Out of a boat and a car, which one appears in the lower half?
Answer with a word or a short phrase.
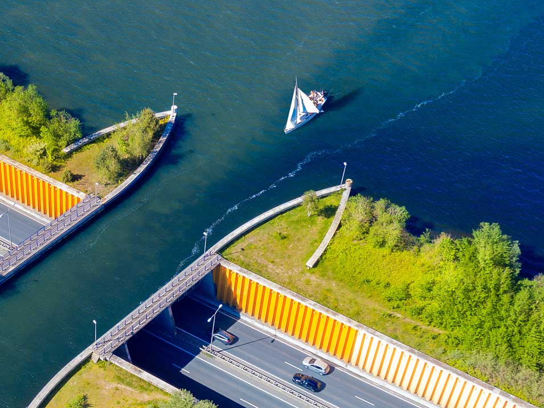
car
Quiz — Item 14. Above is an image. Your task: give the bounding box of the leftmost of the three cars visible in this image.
[211,331,238,349]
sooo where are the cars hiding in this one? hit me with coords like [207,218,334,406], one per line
[292,373,324,393]
[211,331,238,349]
[302,357,331,377]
